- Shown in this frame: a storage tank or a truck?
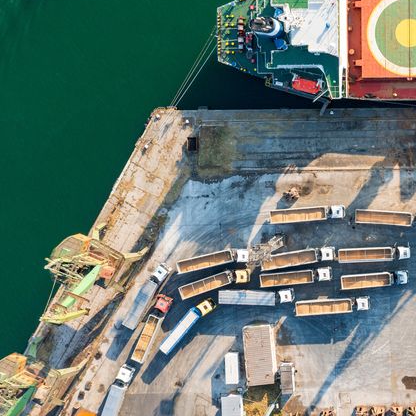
truck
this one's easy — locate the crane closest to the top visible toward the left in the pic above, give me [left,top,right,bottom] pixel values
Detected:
[41,217,152,317]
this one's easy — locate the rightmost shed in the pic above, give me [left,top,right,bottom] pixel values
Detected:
[280,360,295,394]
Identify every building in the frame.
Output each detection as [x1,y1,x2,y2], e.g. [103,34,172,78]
[280,360,295,394]
[242,322,279,386]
